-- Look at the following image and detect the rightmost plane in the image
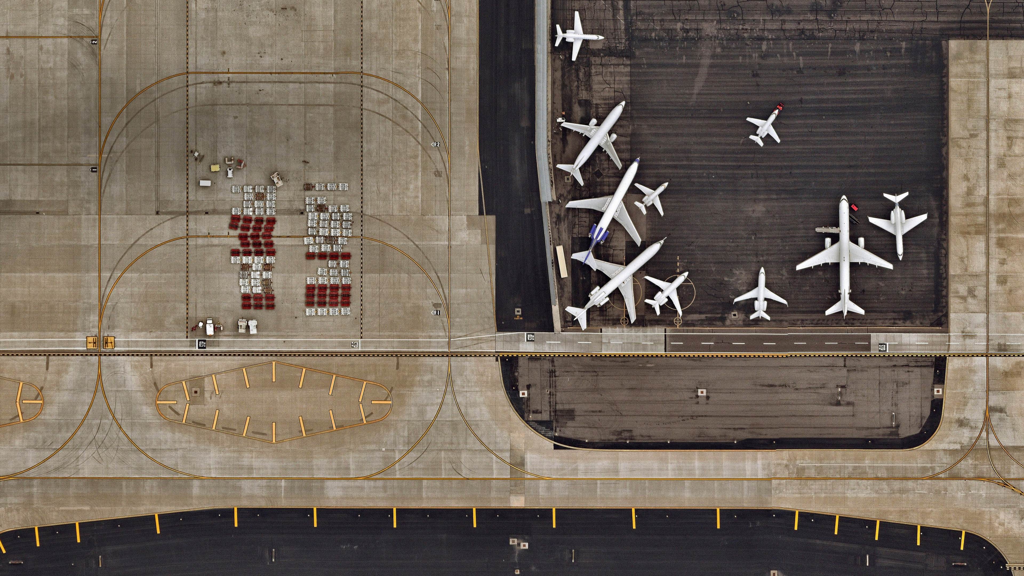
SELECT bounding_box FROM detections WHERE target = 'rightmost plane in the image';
[868,192,928,260]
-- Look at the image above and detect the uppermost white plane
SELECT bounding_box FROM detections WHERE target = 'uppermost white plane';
[555,11,604,60]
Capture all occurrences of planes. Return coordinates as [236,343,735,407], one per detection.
[746,110,780,146]
[566,157,641,270]
[868,192,928,260]
[555,11,604,60]
[634,182,668,216]
[556,101,626,185]
[645,272,688,318]
[565,238,666,330]
[733,267,788,320]
[796,195,893,315]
